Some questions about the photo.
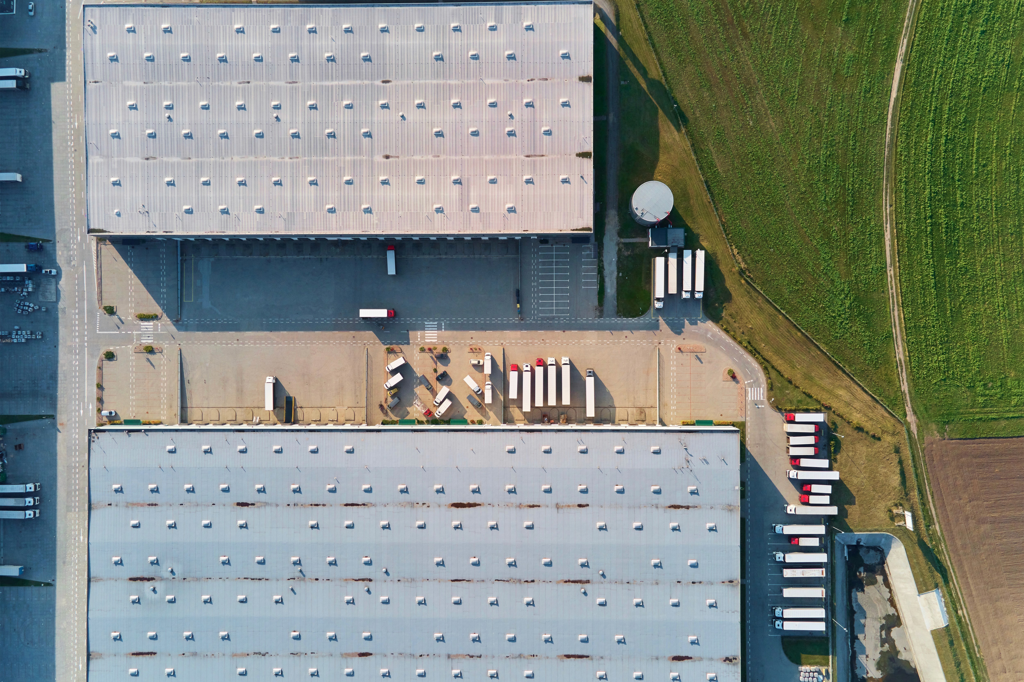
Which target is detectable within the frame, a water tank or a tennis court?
water tank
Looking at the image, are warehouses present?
Yes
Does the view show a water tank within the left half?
No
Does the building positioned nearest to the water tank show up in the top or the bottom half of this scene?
top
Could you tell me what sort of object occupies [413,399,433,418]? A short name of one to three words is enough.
vehicle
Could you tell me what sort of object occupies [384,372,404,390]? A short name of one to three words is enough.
vehicle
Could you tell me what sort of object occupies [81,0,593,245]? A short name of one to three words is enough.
warehouse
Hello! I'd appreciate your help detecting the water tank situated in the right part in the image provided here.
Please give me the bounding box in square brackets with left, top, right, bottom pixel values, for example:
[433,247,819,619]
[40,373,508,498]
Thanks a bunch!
[629,180,673,227]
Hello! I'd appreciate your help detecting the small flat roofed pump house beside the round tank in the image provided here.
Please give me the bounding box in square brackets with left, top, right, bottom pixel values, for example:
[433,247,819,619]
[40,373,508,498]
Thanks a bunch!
[648,224,686,247]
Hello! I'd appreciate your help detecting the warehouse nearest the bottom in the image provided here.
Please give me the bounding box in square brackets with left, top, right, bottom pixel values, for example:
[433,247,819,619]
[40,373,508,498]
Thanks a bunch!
[86,418,741,682]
